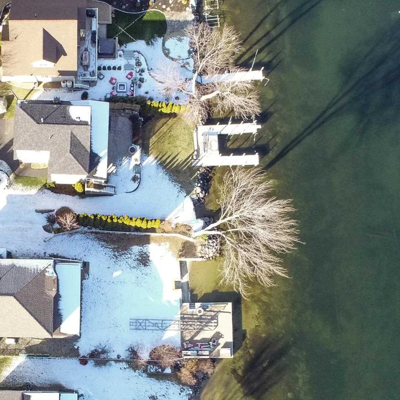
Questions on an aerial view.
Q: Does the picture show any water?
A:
Yes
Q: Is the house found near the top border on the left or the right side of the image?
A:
left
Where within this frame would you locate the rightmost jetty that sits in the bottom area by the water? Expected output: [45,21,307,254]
[181,302,235,358]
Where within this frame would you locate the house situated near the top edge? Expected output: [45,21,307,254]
[1,0,87,83]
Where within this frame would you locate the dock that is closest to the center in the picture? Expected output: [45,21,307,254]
[195,117,260,167]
